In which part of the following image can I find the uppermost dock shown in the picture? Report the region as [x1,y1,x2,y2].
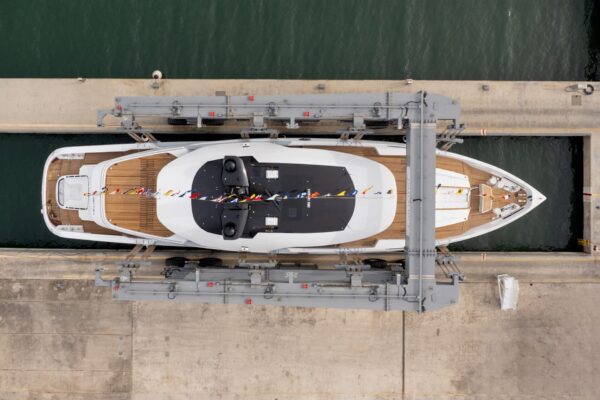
[0,78,600,135]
